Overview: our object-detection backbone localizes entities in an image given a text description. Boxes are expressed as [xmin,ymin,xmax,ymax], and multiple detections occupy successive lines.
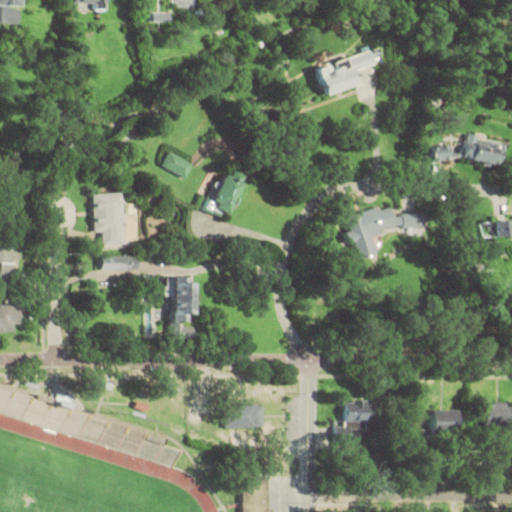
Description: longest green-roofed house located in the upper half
[218,171,246,213]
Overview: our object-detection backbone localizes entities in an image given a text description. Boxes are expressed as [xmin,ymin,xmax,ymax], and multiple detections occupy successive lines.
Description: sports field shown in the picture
[0,429,202,512]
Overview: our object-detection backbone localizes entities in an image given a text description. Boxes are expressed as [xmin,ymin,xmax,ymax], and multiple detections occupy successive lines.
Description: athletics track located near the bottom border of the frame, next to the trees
[0,412,221,512]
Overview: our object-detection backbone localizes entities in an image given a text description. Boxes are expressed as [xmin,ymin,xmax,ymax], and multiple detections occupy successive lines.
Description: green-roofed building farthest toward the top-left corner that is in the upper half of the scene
[162,151,193,179]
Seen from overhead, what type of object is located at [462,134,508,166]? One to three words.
house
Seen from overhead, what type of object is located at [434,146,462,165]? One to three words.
house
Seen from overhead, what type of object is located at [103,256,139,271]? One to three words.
building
